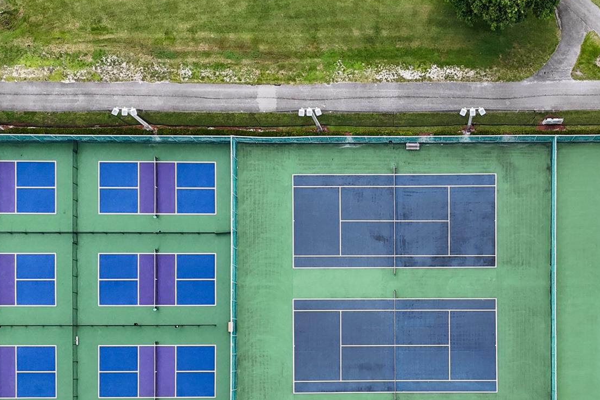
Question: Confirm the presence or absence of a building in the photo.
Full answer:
No, no building is visible in the view.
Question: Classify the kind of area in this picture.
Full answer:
It's a sports ground.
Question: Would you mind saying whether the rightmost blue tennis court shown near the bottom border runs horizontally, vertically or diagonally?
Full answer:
The rightmost blue tennis court shown near the bottom border is laid out horizontally.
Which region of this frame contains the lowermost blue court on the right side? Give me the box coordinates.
[293,299,497,393]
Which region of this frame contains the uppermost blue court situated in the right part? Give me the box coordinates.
[293,174,496,268]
